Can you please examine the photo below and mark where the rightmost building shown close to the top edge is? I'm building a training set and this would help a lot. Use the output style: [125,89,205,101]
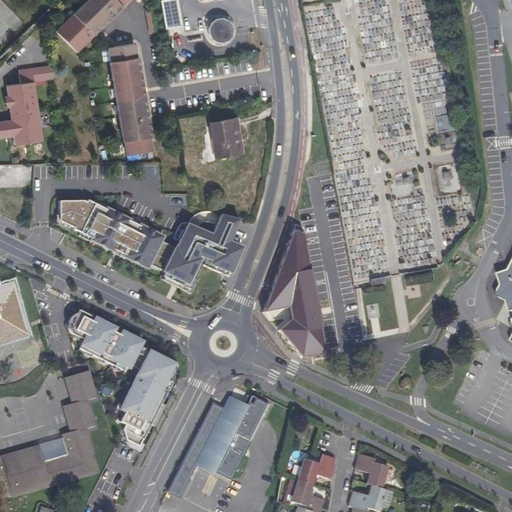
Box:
[205,17,236,48]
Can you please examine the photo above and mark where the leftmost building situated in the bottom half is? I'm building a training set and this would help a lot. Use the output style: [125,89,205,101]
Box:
[0,277,35,347]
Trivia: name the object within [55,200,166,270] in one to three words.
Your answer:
building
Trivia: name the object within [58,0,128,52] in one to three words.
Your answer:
house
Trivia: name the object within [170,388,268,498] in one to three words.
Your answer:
building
